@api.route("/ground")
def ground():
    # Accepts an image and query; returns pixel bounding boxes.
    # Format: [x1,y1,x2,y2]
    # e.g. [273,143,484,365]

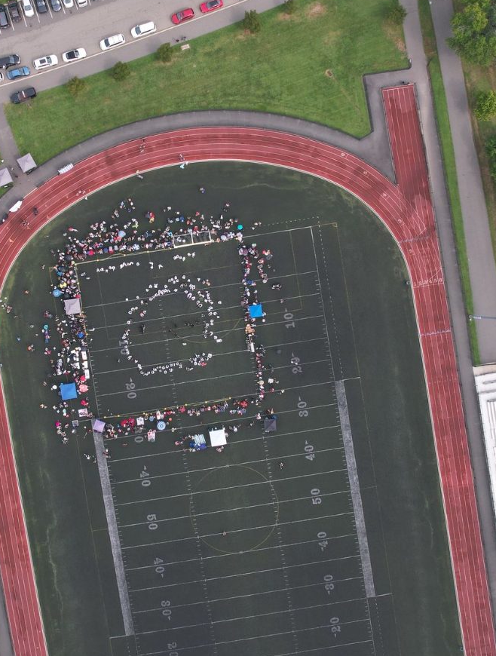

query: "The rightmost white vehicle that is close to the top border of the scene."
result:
[131,21,157,38]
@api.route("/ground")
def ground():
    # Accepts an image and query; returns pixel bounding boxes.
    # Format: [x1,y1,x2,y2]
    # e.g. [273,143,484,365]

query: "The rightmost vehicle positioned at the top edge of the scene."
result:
[200,0,224,14]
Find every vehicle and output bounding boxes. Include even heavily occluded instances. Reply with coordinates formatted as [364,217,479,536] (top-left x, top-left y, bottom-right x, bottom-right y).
[77,0,87,8]
[33,55,59,69]
[0,54,21,68]
[7,67,31,80]
[62,48,86,62]
[0,5,9,29]
[35,0,48,15]
[131,21,157,38]
[49,0,61,13]
[11,88,37,102]
[7,0,22,27]
[171,8,196,25]
[100,34,125,49]
[21,0,34,19]
[61,0,73,9]
[200,0,224,14]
